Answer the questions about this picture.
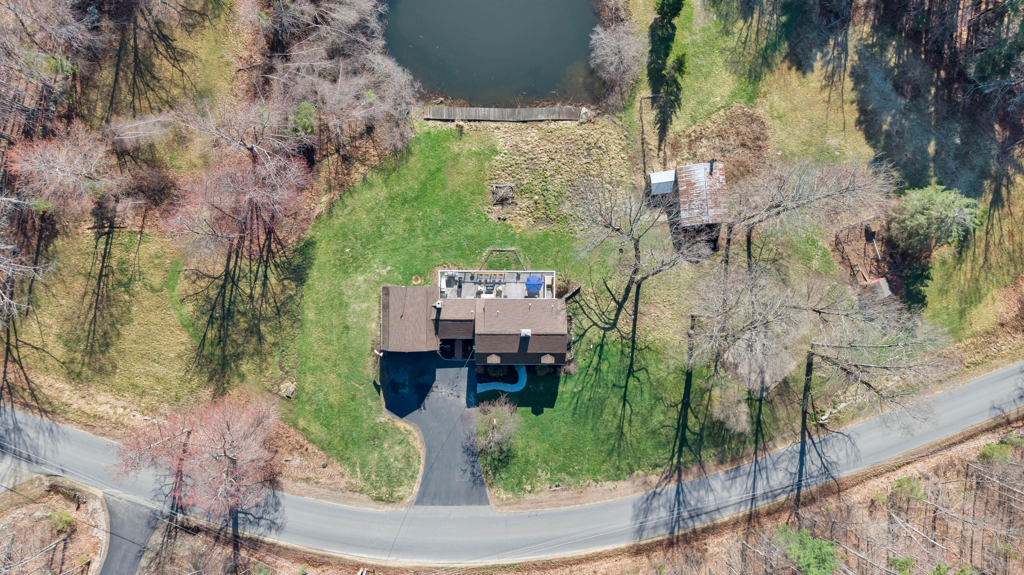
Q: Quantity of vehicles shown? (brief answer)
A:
0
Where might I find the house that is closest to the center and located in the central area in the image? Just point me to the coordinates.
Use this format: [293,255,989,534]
[382,286,568,366]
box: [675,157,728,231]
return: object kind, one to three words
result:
barn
